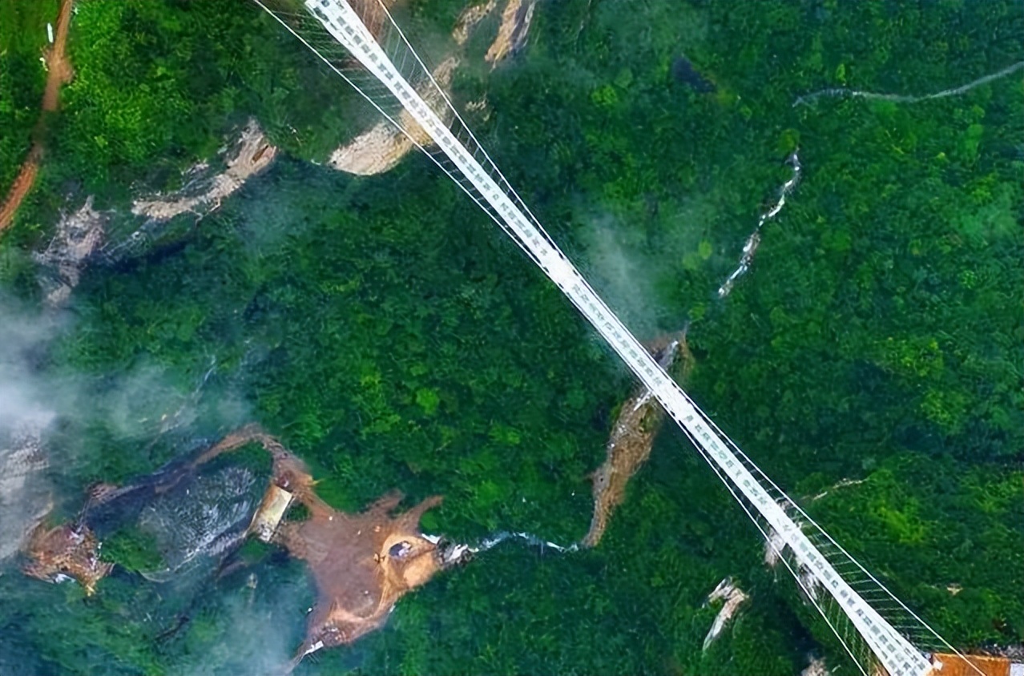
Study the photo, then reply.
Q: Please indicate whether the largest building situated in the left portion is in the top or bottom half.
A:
bottom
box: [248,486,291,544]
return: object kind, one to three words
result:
building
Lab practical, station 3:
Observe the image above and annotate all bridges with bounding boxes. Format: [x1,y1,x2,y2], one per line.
[259,0,993,676]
